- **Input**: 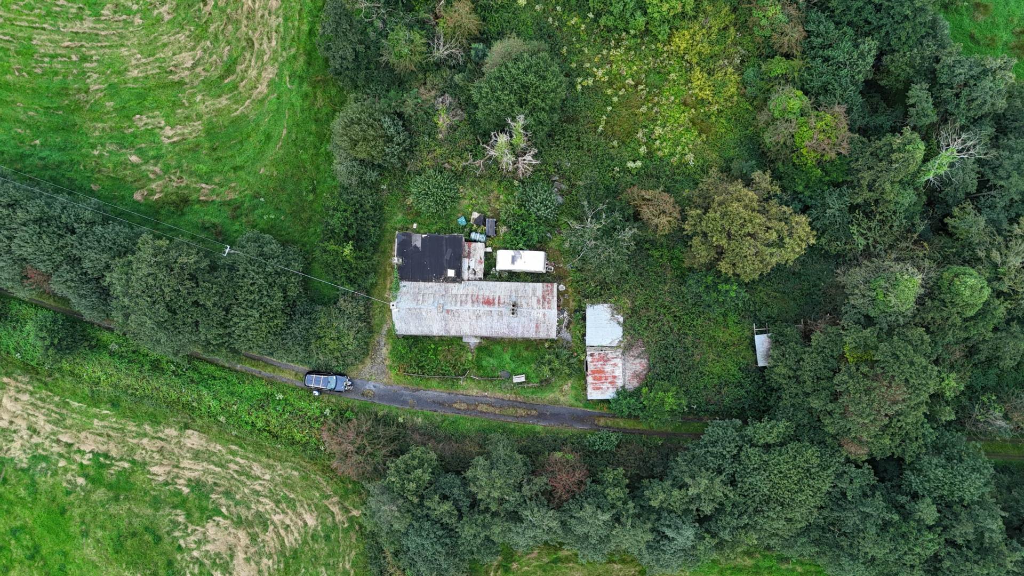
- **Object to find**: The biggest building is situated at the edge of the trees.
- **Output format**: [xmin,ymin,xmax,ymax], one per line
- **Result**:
[388,232,558,343]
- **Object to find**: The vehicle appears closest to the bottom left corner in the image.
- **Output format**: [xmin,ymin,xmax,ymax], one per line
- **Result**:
[302,372,349,396]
